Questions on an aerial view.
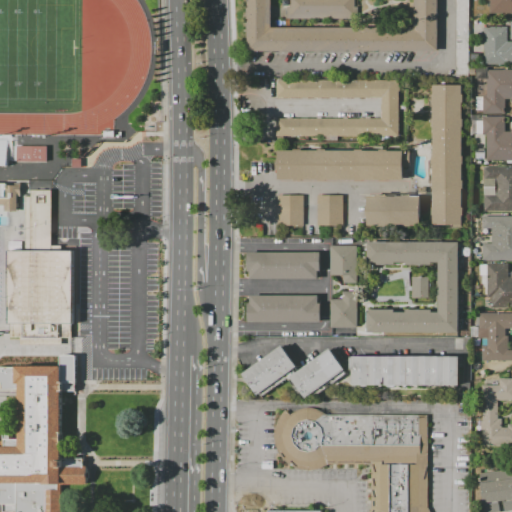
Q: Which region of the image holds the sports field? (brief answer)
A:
top left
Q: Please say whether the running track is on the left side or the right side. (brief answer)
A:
left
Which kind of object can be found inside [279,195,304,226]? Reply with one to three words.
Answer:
building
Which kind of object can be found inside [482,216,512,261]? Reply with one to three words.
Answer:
house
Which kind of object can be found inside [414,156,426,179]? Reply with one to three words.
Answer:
swimming pool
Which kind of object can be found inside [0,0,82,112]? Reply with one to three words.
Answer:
sports field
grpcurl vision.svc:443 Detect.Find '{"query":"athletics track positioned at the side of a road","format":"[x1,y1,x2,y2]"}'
[0,0,152,134]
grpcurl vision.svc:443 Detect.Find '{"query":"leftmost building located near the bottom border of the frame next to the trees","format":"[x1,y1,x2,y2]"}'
[0,365,59,512]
